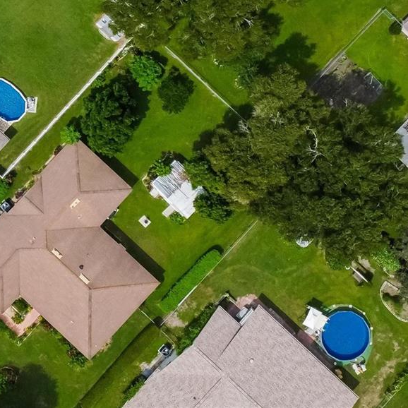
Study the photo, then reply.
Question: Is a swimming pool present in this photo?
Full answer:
Yes, a swimming pool can be made out from above.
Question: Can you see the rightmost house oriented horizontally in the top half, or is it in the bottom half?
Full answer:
The rightmost house oriented horizontally is in the bottom half of the image.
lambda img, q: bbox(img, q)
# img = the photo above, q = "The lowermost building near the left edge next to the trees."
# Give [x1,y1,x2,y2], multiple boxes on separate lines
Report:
[0,140,160,359]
